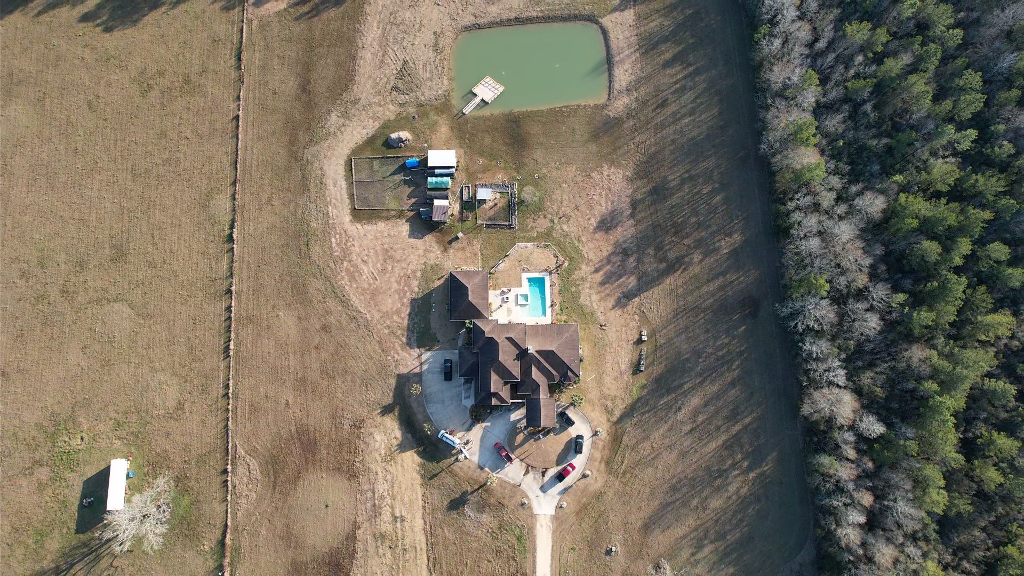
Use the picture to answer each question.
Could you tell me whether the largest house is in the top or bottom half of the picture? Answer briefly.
bottom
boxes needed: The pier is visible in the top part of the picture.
[463,73,501,115]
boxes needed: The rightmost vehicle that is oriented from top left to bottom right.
[557,409,576,428]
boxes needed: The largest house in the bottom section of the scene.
[458,320,580,429]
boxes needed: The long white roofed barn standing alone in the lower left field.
[106,457,133,511]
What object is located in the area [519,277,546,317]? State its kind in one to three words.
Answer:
swimming pool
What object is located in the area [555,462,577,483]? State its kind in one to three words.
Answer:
truck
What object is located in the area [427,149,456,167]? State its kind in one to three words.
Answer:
shed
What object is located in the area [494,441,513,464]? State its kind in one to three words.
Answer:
vehicle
